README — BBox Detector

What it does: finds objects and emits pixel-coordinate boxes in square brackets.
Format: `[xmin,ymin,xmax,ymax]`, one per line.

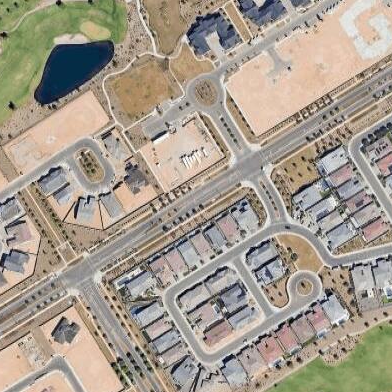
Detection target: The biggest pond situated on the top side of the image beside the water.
[35,40,113,104]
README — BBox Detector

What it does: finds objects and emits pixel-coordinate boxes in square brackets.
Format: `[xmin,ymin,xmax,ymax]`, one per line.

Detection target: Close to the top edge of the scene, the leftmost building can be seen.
[187,10,244,56]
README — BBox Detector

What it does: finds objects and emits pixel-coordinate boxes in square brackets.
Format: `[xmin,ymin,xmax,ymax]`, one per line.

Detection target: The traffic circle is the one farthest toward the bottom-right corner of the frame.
[286,271,322,306]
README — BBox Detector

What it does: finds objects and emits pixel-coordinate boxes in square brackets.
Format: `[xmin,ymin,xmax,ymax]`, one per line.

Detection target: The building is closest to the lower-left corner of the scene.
[42,314,82,353]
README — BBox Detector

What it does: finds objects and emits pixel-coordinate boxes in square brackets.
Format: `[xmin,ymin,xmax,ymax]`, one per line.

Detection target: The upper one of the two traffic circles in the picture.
[184,70,227,113]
